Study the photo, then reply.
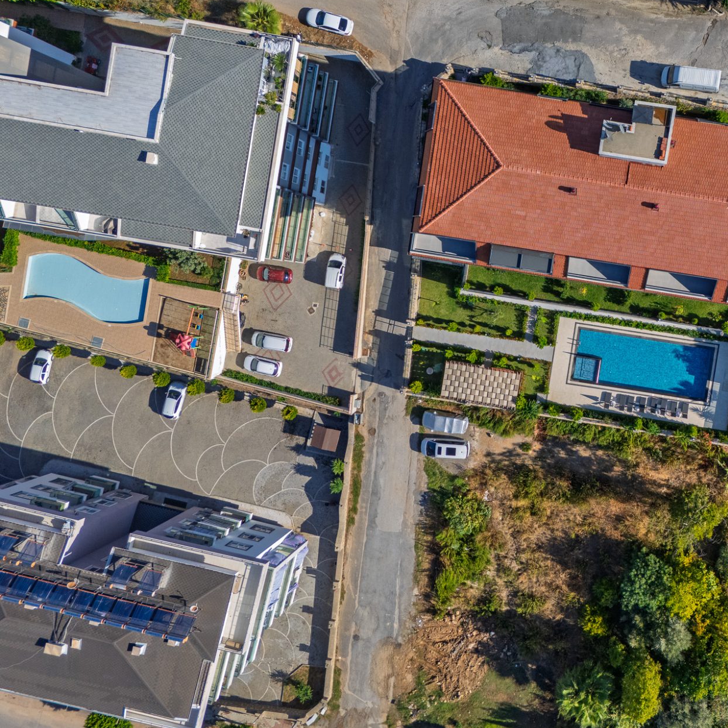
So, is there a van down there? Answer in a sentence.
Yes, the image includes a van.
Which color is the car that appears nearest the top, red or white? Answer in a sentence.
The car that appears nearest the top is white.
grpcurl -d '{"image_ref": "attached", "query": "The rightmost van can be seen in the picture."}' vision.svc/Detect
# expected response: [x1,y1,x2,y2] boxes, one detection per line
[661,63,722,94]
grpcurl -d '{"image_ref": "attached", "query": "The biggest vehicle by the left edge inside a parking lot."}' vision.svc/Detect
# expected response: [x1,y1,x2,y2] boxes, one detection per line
[24,349,57,386]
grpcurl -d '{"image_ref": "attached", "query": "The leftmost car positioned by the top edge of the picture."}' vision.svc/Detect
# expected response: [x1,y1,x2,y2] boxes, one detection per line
[304,7,355,38]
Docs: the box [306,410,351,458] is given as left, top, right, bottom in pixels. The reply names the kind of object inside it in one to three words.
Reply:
shed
